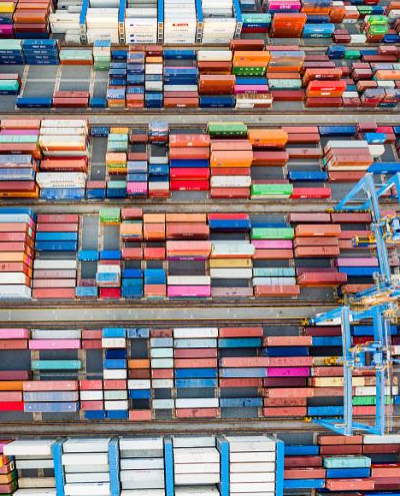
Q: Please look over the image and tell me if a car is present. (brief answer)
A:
No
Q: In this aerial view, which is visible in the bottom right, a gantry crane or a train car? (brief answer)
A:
gantry crane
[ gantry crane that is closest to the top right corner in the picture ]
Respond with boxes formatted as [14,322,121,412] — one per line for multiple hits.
[323,182,400,307]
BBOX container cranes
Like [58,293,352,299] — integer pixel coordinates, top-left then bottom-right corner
[300,312,400,449]
[323,182,400,307]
